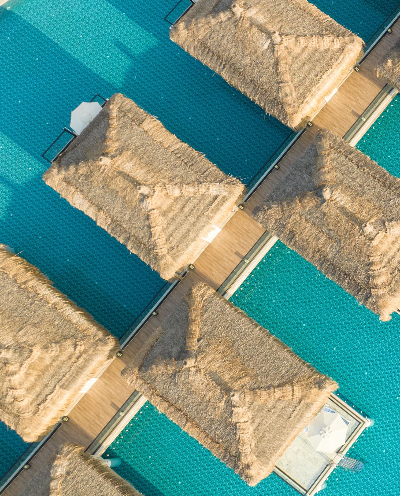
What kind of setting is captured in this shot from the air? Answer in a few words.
residential area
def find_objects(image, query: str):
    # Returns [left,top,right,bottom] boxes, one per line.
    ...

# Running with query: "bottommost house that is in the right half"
[120,278,374,496]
